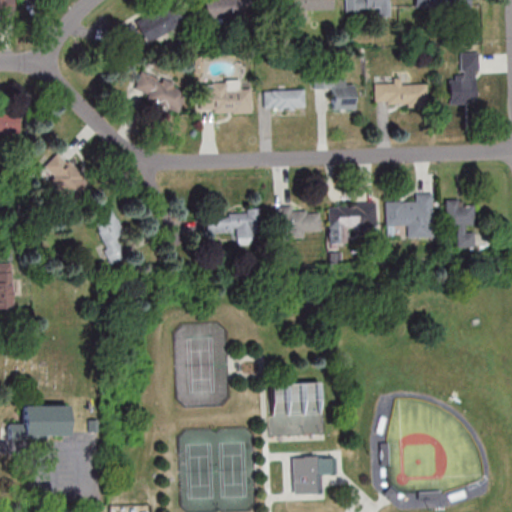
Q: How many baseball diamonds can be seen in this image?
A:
one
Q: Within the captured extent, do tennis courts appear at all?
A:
Yes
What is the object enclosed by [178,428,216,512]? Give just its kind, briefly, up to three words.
tennis court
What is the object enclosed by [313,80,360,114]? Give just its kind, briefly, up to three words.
house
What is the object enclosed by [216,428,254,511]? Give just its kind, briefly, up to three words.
tennis court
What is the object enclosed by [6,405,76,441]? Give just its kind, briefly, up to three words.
building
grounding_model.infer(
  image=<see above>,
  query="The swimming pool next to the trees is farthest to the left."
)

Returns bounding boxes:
[208,60,236,77]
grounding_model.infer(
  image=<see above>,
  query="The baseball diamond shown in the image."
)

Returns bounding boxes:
[388,398,482,492]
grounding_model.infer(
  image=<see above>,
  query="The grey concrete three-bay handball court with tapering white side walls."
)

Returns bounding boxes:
[268,382,324,434]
